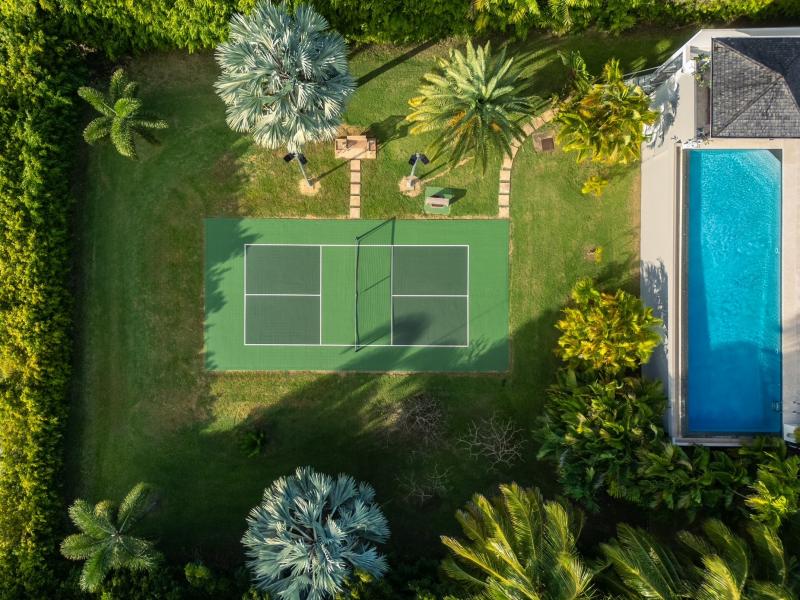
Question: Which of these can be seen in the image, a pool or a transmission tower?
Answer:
pool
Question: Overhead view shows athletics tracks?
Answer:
No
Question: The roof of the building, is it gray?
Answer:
Yes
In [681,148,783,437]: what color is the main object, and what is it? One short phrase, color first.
blue swimming pool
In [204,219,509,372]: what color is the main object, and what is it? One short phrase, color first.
green sports court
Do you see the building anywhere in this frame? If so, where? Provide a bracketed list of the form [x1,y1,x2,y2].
[710,36,800,138]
